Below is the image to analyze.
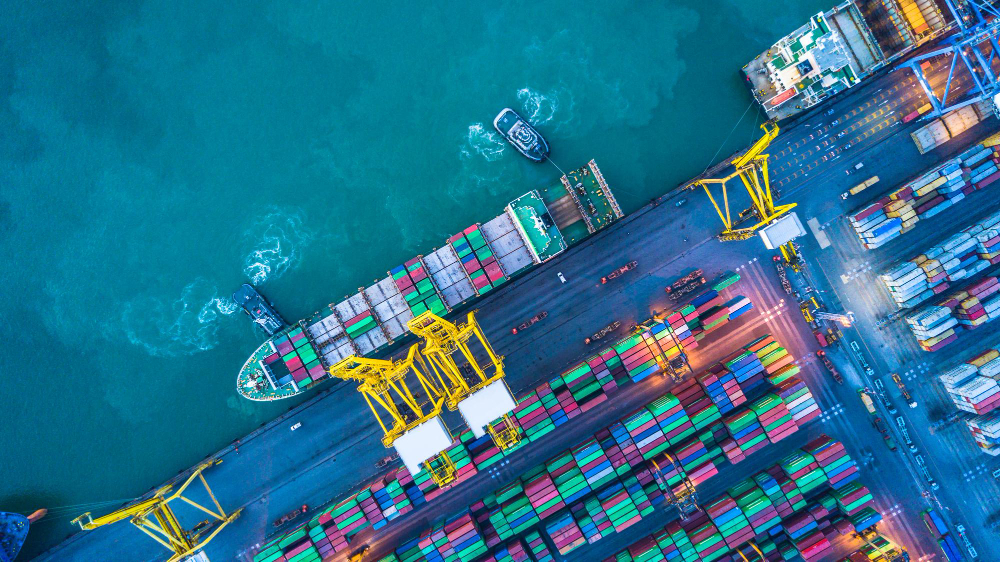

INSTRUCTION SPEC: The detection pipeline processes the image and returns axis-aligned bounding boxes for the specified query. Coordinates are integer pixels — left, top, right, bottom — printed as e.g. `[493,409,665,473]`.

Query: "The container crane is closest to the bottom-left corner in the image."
[61,464,243,562]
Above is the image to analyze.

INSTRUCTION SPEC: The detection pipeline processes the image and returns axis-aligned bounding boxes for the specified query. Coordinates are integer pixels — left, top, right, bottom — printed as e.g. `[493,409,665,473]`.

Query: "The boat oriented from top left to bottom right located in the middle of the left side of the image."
[231,283,287,335]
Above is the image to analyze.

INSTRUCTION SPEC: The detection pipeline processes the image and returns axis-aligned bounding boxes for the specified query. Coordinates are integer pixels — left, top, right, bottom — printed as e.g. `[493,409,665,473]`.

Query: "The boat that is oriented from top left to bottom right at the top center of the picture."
[496,107,548,161]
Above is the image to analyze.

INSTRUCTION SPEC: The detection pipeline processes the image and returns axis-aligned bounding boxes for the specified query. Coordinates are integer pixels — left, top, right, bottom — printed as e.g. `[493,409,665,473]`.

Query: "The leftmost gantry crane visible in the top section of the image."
[689,106,819,271]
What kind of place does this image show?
port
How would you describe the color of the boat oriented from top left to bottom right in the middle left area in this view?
blue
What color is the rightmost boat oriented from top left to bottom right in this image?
blue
